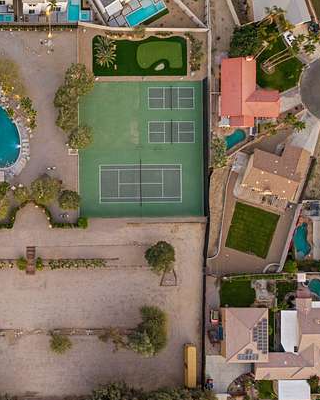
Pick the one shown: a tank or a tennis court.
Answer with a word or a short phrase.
tennis court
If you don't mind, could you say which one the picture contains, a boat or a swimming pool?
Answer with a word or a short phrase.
swimming pool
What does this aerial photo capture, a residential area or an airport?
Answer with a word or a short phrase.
residential area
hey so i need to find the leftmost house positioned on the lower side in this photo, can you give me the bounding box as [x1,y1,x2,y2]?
[222,307,269,363]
